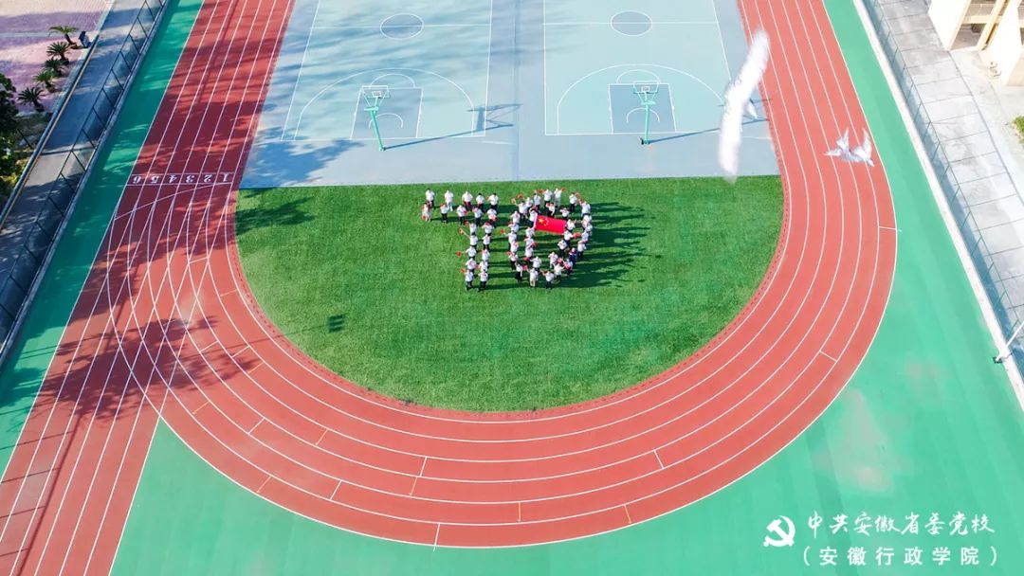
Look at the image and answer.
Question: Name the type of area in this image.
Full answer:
The picture captures a sports ground.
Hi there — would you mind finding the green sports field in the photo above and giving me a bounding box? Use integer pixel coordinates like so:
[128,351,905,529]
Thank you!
[236,174,781,411]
